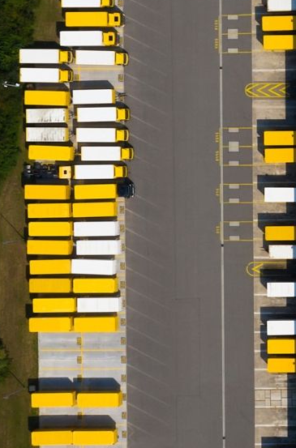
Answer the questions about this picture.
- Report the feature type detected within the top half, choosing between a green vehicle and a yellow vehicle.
yellow vehicle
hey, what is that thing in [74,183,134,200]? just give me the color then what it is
yellow vehicle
